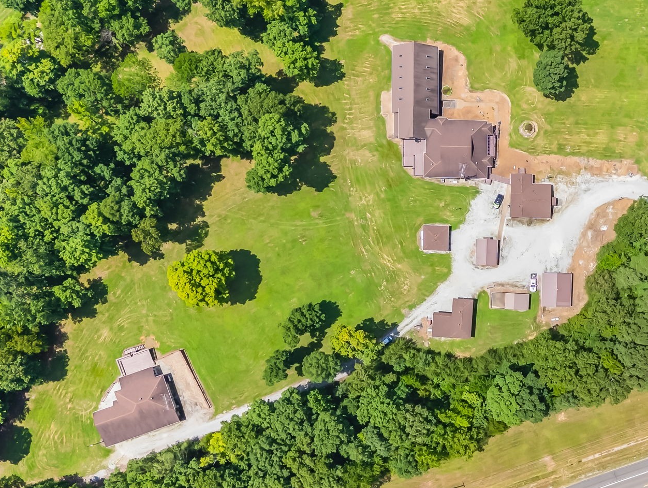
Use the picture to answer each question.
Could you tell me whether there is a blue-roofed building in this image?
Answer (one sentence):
No, there's no blue-roofed building here.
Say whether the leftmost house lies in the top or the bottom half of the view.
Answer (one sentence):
The leftmost house is in the bottom half of the image.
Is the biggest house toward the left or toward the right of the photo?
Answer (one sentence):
It is on the right.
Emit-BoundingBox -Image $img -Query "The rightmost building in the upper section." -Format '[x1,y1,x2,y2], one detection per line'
[510,169,561,220]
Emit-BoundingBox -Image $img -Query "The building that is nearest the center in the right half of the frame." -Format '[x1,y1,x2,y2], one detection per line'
[422,225,449,251]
